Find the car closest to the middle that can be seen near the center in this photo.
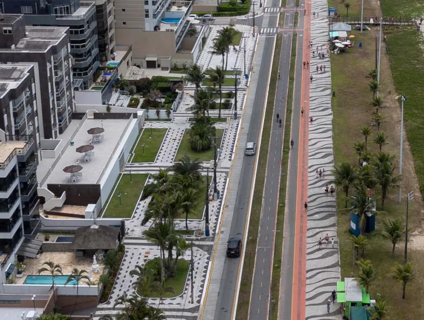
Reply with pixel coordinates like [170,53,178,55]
[245,140,257,153]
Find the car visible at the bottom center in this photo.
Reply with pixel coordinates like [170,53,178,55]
[226,235,242,257]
